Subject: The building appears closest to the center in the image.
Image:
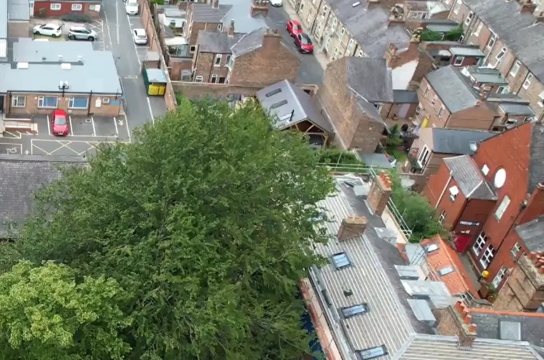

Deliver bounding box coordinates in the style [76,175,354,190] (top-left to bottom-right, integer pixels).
[254,77,339,161]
